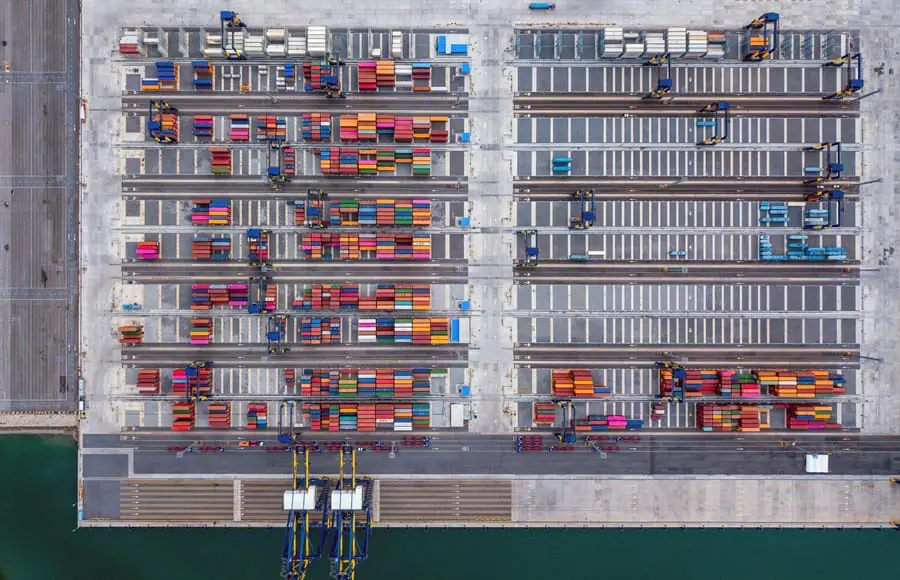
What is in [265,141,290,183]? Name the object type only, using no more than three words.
container crane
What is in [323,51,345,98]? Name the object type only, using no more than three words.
container crane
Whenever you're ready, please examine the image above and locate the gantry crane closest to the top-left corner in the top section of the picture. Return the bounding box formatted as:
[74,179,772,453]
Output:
[147,101,178,145]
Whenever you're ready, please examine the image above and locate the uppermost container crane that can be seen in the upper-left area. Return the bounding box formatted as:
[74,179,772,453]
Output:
[219,11,246,61]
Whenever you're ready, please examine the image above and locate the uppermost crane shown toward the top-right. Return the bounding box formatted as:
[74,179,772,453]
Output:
[744,12,780,61]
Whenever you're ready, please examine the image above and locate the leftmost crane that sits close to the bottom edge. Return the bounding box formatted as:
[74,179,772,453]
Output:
[274,447,338,580]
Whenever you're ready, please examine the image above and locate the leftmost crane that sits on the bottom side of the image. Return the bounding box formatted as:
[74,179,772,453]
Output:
[184,361,212,403]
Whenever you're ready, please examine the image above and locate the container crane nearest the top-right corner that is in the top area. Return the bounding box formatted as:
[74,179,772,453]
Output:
[824,51,865,98]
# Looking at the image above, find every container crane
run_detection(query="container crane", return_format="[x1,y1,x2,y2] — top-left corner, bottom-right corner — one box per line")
[744,12,780,61]
[147,101,178,145]
[643,51,673,98]
[517,228,540,267]
[265,314,290,354]
[570,189,596,229]
[805,189,845,229]
[323,51,345,98]
[805,141,844,183]
[219,11,246,61]
[277,399,301,444]
[265,141,290,183]
[657,361,688,403]
[184,361,212,403]
[824,51,865,98]
[305,189,328,229]
[248,277,273,315]
[245,228,271,267]
[698,101,730,145]
[553,399,577,443]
